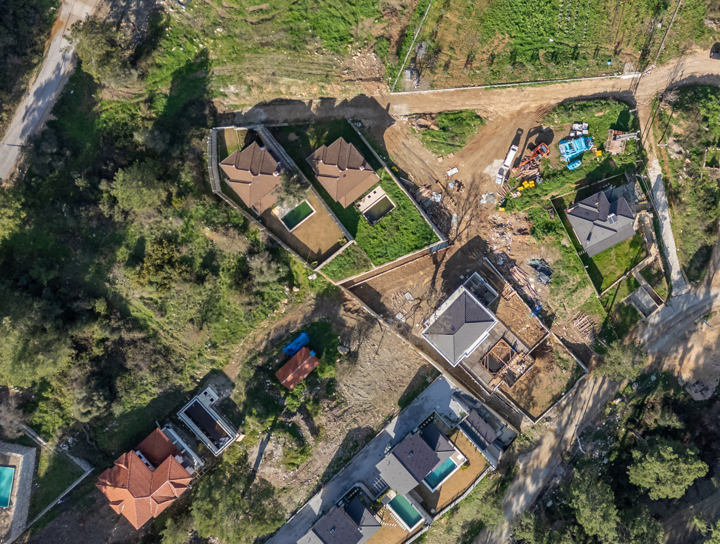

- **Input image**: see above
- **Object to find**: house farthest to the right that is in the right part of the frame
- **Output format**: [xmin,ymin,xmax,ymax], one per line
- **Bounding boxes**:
[567,187,636,257]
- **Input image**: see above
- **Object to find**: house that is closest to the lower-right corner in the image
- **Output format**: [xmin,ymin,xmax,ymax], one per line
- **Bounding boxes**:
[450,389,516,467]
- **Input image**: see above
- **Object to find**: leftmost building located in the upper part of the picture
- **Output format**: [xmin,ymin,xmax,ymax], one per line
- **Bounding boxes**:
[219,142,289,213]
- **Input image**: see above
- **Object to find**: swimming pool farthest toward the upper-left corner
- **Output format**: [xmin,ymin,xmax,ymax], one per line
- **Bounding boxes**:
[273,199,316,232]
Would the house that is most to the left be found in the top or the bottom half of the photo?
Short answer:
bottom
